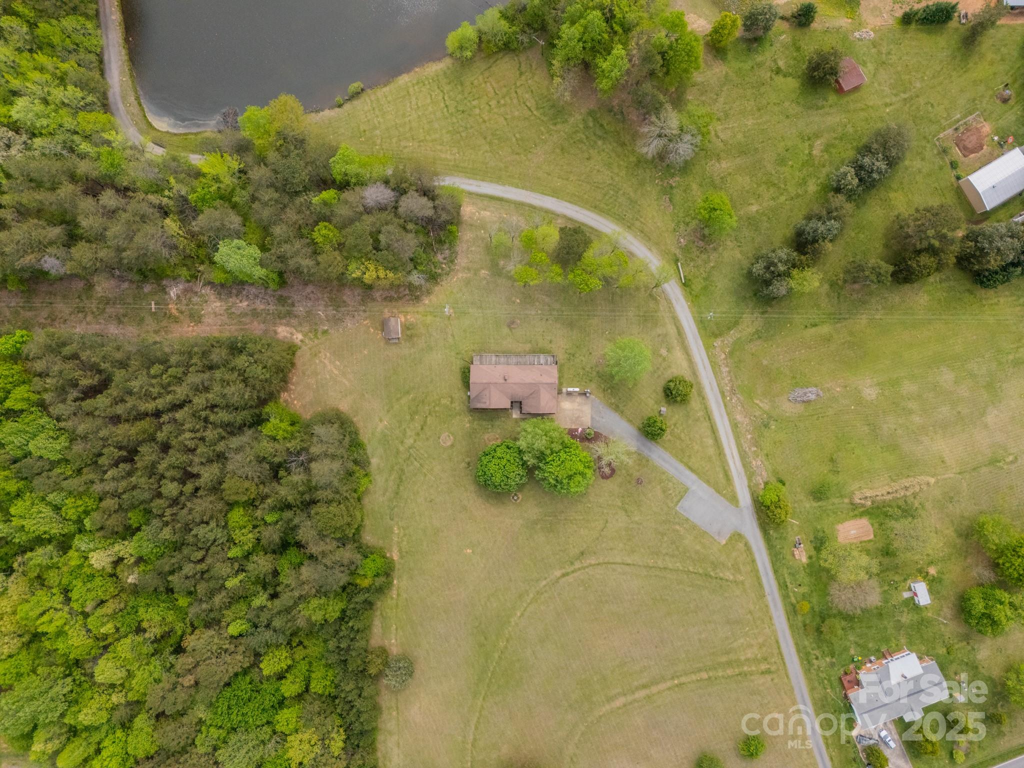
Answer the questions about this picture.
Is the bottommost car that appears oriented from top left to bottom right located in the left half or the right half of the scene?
right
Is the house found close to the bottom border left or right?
right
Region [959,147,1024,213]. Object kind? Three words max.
barn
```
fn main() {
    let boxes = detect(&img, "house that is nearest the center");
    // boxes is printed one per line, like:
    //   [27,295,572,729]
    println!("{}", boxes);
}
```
[470,353,558,414]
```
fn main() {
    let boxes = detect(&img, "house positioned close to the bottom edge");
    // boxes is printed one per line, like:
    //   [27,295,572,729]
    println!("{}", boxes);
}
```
[834,641,949,730]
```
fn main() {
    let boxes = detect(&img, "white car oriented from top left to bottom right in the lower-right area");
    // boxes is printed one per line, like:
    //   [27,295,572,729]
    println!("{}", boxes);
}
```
[879,728,901,753]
